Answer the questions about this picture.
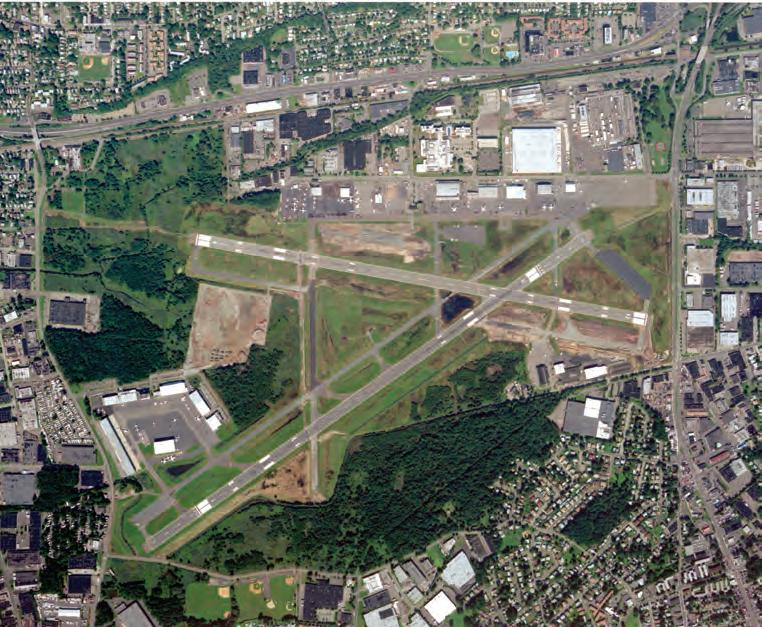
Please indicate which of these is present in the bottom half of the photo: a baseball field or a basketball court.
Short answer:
baseball field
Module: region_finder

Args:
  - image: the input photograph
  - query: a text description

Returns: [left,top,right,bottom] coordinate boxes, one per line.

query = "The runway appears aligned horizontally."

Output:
[195,234,649,326]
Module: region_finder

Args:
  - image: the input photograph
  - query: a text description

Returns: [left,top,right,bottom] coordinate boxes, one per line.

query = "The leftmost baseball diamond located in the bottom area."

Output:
[186,583,231,622]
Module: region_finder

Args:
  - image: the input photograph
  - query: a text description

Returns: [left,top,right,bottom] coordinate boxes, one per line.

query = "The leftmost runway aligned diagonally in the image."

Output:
[146,229,592,551]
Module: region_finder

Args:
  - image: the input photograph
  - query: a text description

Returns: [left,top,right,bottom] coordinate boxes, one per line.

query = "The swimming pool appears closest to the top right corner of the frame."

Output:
[504,44,519,60]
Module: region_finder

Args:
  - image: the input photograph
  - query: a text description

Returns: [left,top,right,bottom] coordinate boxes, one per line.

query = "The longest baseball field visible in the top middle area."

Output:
[432,32,475,52]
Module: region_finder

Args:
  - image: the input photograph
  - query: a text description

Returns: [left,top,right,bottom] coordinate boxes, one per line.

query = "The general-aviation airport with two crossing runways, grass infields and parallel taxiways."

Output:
[109,178,657,553]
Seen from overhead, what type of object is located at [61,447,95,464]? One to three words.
building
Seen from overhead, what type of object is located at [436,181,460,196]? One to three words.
hangar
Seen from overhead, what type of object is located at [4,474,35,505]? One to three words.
building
